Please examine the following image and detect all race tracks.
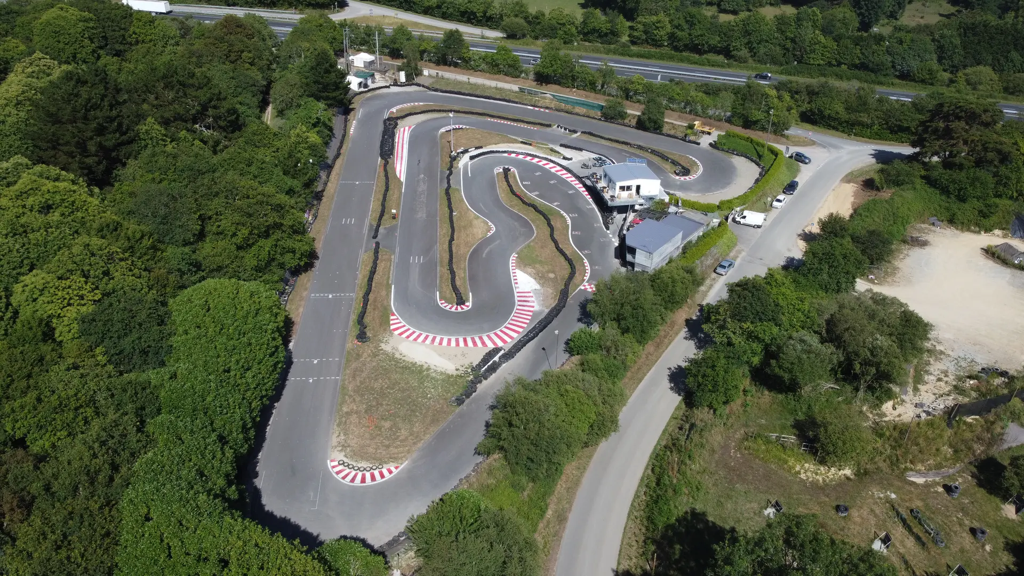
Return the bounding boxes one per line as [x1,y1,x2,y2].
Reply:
[254,91,738,560]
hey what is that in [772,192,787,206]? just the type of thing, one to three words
car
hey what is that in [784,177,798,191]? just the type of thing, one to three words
car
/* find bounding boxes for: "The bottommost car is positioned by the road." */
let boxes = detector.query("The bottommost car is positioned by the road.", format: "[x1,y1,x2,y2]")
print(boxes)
[714,259,736,273]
